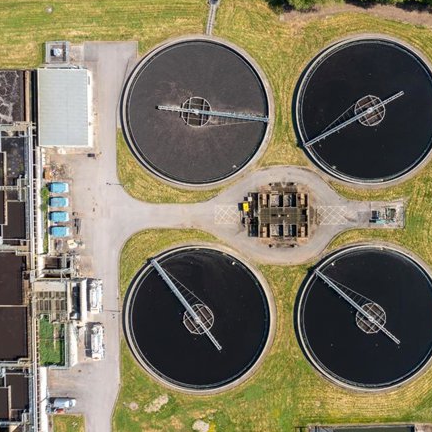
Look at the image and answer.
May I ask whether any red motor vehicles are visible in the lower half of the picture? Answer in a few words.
No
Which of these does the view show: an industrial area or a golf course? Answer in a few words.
industrial area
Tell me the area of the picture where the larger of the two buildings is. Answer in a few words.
top left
